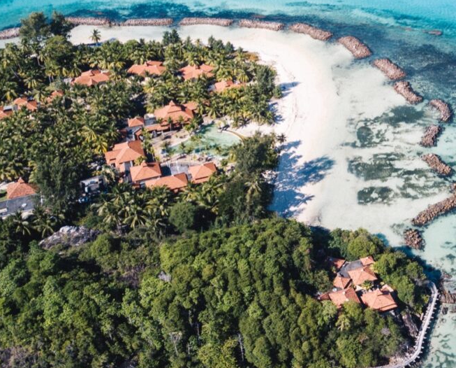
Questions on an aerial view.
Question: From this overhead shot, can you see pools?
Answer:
Yes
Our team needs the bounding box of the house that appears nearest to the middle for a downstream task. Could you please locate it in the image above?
[188,159,217,187]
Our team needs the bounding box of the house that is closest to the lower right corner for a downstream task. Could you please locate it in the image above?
[364,288,397,319]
